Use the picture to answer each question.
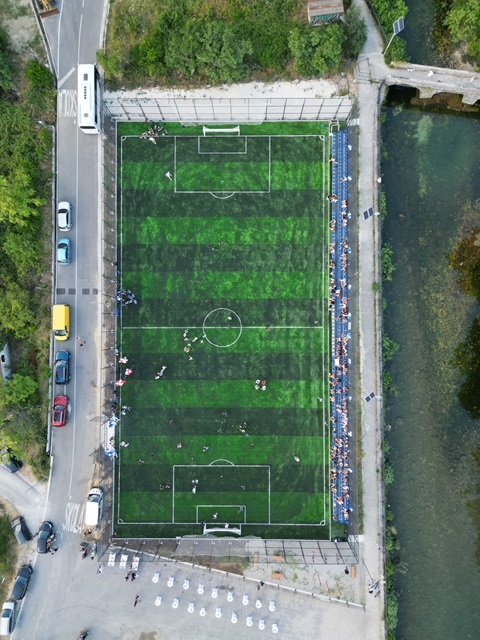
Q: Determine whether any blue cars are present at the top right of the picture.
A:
No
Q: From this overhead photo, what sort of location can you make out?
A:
sports ground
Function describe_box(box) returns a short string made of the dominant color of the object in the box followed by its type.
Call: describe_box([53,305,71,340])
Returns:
yellow vehicle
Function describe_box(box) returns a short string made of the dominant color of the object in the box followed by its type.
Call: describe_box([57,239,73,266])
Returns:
blue car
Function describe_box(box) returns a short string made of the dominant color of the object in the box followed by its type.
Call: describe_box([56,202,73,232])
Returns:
white car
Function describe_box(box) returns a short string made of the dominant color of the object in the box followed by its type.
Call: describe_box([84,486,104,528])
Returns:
white vehicle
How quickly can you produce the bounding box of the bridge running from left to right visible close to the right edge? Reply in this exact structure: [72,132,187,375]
[374,61,480,112]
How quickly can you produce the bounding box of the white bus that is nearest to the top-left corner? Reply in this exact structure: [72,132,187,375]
[78,63,102,136]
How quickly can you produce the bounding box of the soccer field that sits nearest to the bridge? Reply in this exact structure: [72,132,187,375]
[114,121,348,541]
